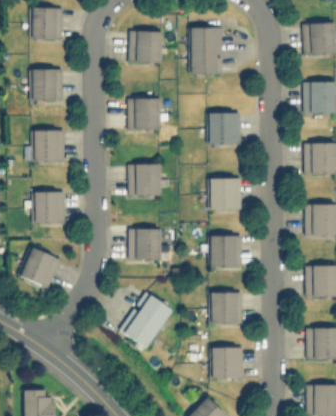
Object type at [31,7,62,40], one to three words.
house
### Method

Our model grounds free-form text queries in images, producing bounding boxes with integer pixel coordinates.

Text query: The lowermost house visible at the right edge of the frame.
[306,384,336,416]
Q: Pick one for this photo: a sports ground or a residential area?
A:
residential area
